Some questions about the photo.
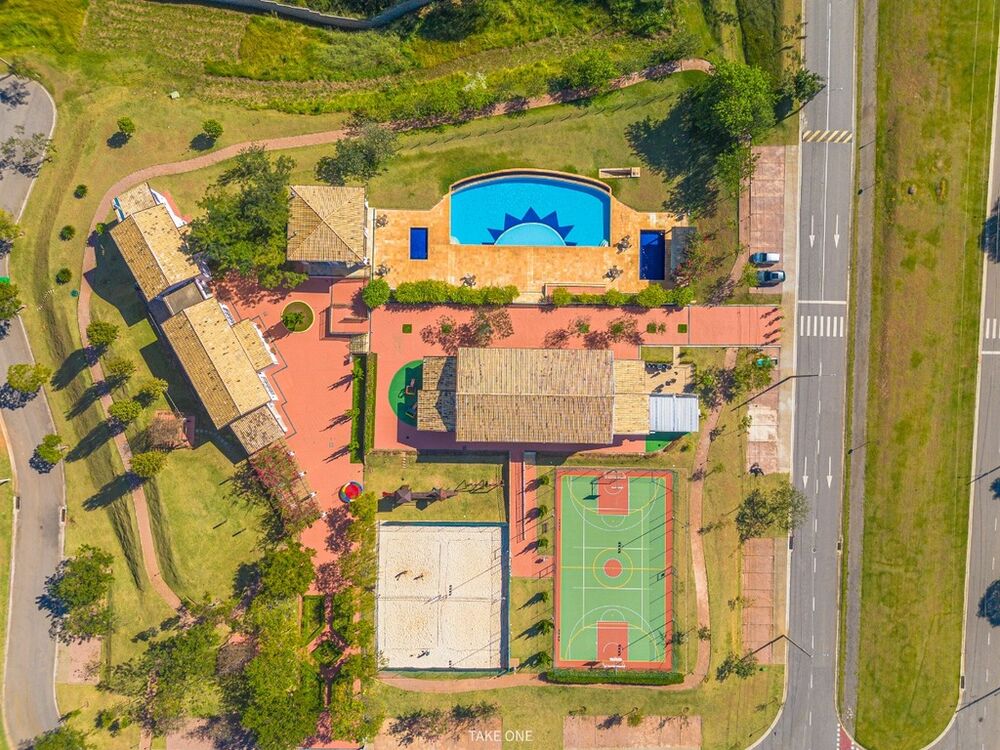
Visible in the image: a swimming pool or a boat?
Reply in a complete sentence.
The image shows a swimming pool.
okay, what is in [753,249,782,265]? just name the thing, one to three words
car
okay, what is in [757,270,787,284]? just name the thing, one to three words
car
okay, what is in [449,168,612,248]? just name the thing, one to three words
swimming pool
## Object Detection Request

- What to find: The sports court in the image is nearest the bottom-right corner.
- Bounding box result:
[554,470,674,670]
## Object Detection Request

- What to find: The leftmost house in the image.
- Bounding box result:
[108,183,292,455]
